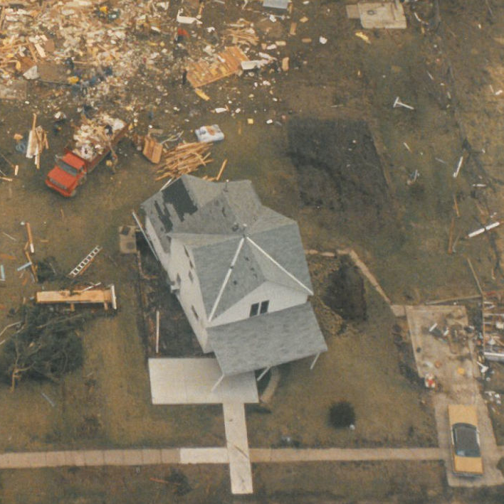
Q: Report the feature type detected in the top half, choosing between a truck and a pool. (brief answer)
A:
truck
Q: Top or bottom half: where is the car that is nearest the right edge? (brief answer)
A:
bottom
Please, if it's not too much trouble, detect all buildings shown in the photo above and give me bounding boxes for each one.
[479,292,504,361]
[137,175,327,394]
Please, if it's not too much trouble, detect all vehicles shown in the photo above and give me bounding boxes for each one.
[46,111,139,203]
[446,404,482,483]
